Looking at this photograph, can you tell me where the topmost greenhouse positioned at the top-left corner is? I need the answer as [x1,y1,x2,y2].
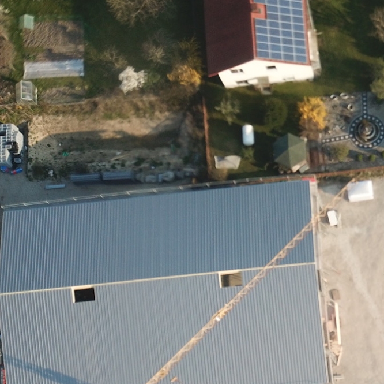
[21,59,84,78]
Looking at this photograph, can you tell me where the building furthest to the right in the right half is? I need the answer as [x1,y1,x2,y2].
[349,182,374,205]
